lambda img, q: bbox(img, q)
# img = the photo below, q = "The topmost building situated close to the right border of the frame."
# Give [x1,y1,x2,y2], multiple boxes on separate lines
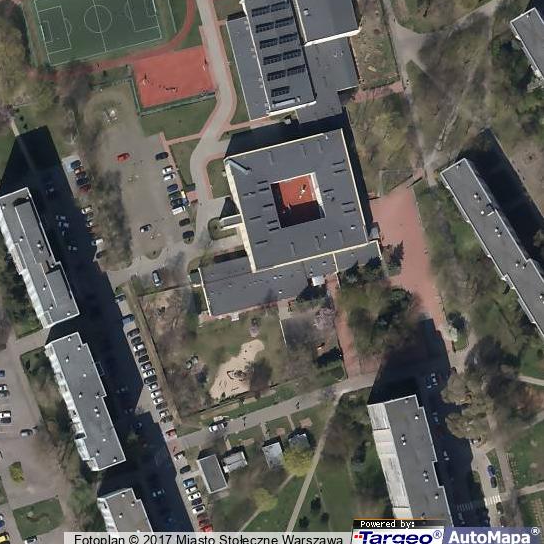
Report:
[500,7,544,103]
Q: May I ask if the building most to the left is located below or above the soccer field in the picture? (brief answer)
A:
below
